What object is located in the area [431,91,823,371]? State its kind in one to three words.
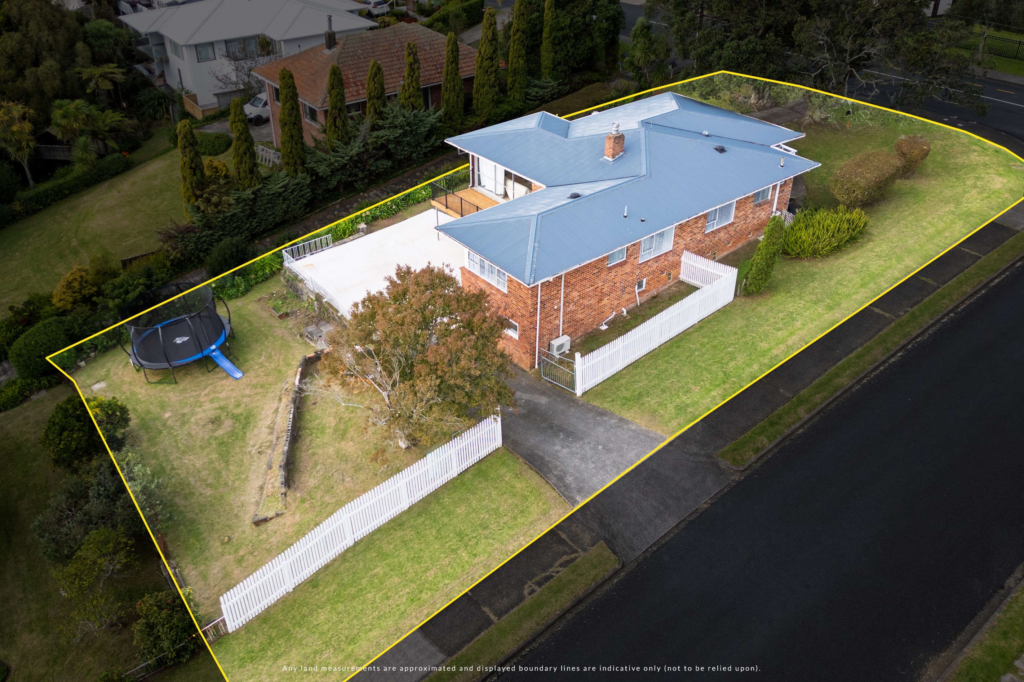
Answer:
house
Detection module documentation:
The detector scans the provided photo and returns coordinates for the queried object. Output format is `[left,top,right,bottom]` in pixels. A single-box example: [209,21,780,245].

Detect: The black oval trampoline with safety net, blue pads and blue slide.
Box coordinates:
[121,281,247,387]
